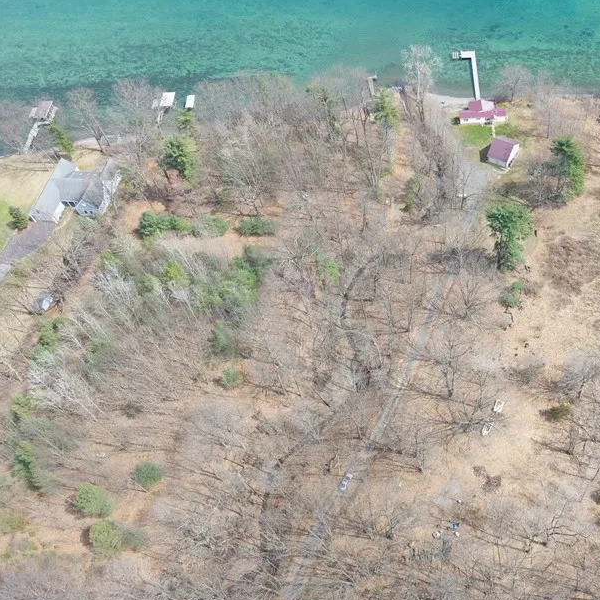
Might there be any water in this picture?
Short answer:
Yes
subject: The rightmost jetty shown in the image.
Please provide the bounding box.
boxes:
[461,53,480,96]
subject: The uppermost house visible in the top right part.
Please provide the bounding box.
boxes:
[459,94,507,128]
